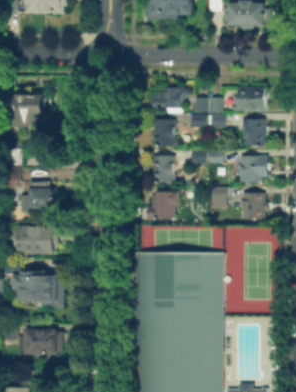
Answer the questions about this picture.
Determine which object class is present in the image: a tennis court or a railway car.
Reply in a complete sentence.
The image shows a tennis court.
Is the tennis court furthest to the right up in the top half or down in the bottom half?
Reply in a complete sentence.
The tennis court furthest to the right sits in the bottom half of the picture.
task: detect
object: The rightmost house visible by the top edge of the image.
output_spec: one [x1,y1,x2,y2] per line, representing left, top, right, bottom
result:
[227,0,271,29]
